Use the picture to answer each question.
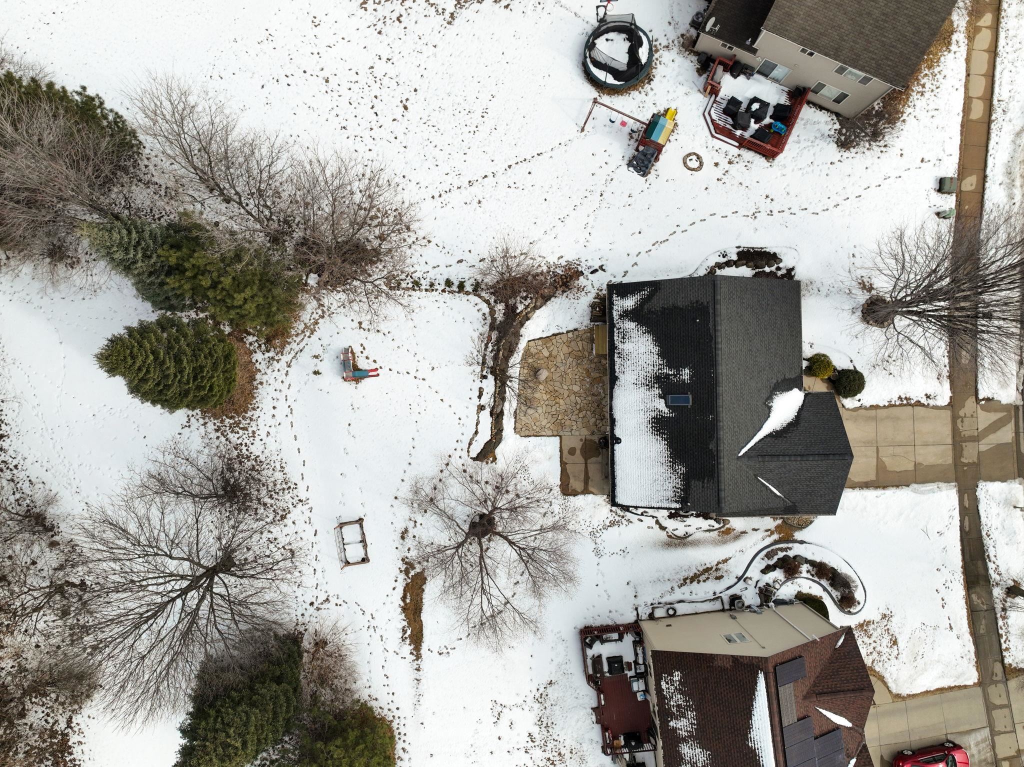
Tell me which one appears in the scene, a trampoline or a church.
trampoline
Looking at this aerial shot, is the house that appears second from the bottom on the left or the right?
right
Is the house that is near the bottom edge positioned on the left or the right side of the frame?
right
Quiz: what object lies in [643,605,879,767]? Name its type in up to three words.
house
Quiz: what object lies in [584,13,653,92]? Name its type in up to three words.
trampoline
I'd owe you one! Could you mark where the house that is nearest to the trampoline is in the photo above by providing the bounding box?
[694,0,957,119]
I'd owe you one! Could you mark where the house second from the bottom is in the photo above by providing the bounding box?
[602,275,857,517]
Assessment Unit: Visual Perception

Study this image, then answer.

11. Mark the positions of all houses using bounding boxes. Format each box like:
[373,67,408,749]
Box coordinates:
[694,0,957,119]
[602,275,857,517]
[643,605,879,767]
